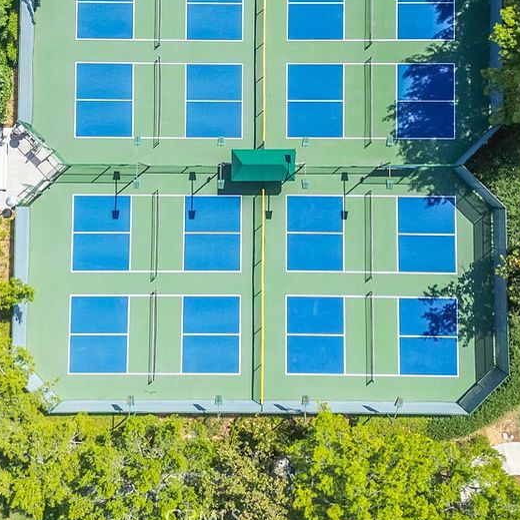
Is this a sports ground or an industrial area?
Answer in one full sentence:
It's a sports ground.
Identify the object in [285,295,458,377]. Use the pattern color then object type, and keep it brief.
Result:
blue sports court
